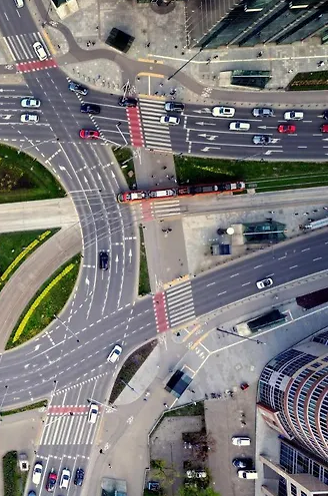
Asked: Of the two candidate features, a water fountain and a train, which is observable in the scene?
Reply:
train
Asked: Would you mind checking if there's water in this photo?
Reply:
No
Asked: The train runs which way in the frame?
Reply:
from side to side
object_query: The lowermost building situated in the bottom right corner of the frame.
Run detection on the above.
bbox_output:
[258,412,328,496]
